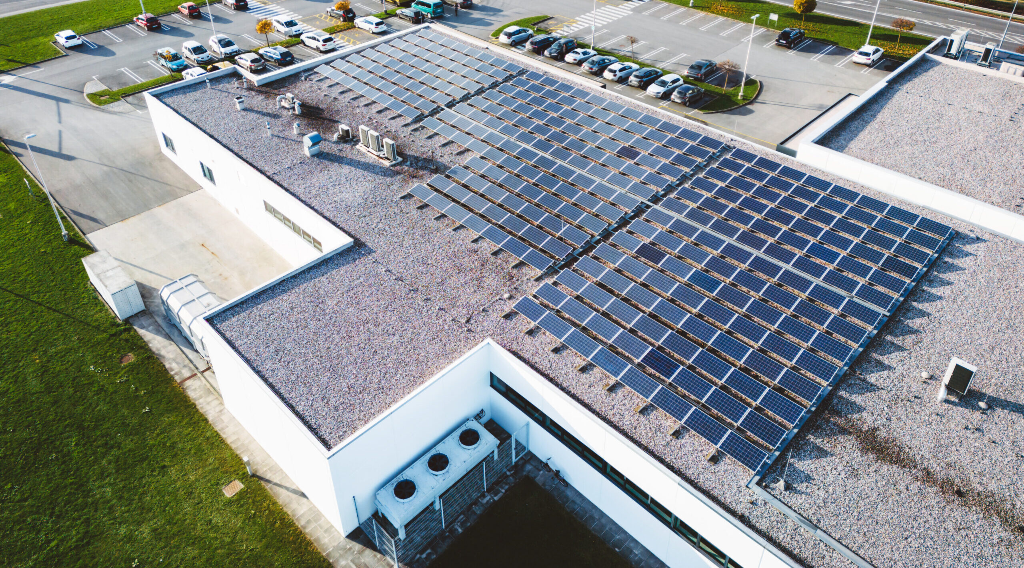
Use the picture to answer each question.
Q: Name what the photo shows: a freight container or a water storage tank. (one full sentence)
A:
The one in the frame is a freight container.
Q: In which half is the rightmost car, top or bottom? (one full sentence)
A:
The rightmost car sits in the top half of the picture.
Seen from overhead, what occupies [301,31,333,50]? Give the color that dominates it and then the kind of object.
white car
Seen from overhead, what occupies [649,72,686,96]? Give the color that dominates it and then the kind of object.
white car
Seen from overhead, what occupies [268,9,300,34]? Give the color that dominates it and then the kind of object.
white vehicle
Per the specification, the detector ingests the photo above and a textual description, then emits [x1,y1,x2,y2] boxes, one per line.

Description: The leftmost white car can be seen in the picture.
[54,29,79,46]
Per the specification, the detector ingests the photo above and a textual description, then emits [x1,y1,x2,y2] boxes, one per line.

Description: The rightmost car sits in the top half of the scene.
[856,42,889,64]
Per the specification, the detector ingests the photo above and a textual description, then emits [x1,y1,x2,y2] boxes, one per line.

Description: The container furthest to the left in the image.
[82,247,145,322]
